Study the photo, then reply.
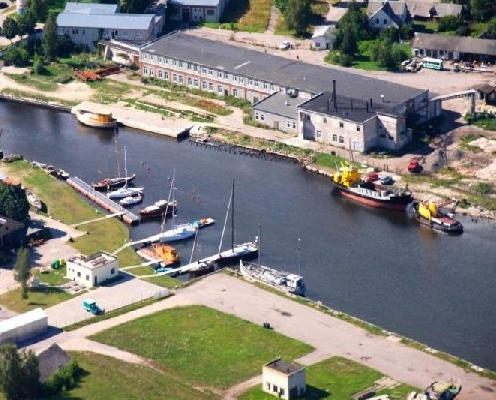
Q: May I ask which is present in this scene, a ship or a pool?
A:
ship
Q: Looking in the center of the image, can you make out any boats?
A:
Yes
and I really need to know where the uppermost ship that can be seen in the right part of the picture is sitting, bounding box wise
[337,160,414,211]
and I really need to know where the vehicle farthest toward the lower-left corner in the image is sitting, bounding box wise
[82,293,103,312]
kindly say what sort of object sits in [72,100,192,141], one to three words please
pier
